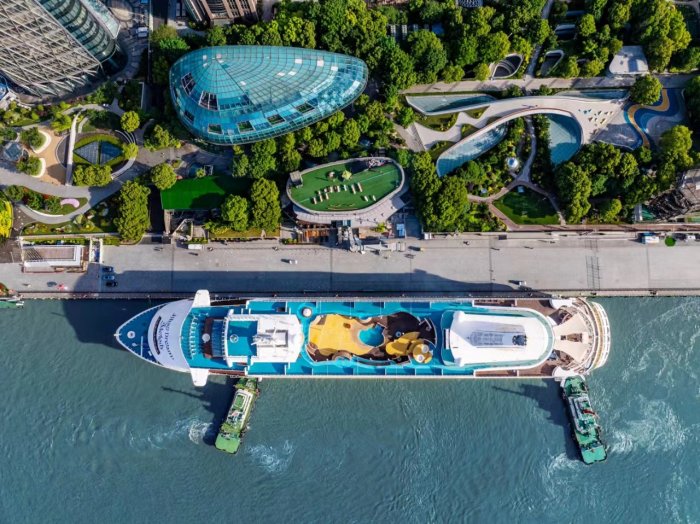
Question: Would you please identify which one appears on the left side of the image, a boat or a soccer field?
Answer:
boat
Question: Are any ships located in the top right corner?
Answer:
No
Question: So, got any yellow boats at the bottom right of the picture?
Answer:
No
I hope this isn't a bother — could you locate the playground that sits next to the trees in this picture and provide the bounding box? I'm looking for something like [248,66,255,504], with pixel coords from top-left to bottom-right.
[621,86,699,154]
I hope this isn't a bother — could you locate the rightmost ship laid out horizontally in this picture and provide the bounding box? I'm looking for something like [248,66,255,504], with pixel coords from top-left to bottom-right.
[107,290,611,386]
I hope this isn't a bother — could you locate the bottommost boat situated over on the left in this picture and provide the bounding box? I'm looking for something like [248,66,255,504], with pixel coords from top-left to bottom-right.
[216,378,265,455]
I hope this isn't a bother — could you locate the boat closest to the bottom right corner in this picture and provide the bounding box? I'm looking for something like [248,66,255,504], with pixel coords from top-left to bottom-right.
[563,376,608,466]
